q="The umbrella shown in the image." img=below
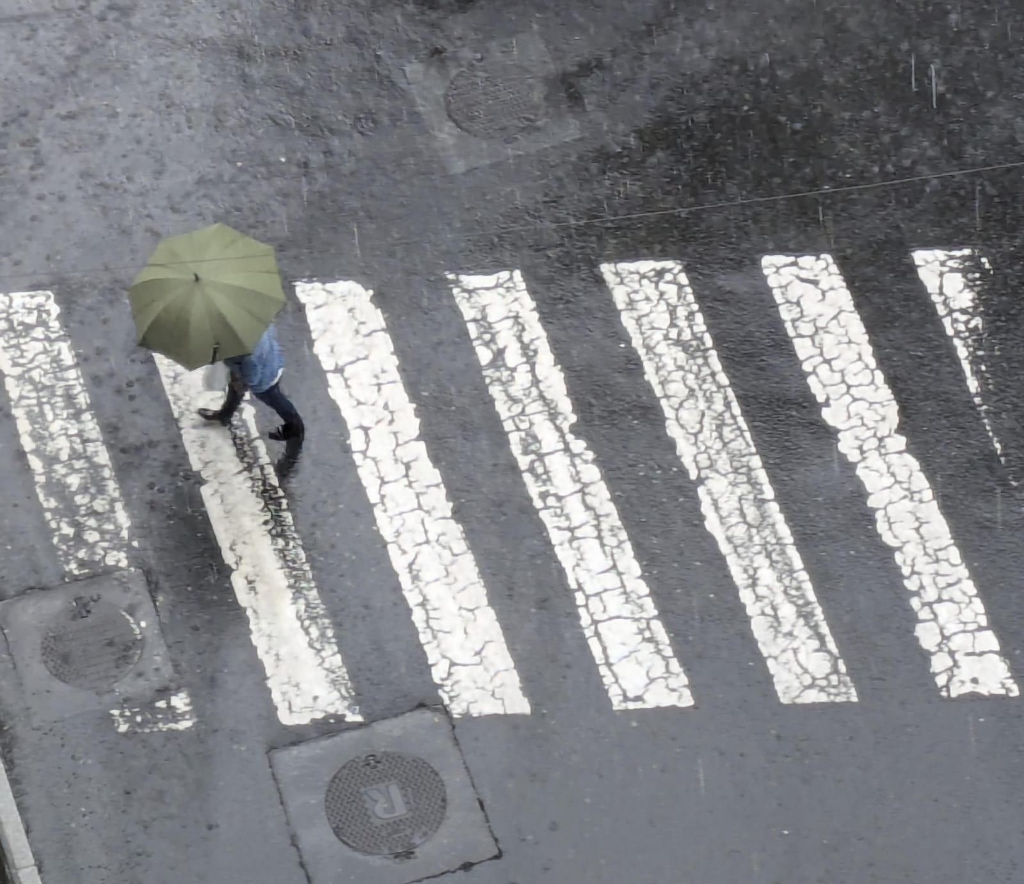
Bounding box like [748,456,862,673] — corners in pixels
[128,220,288,376]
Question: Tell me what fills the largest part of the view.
paved ground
